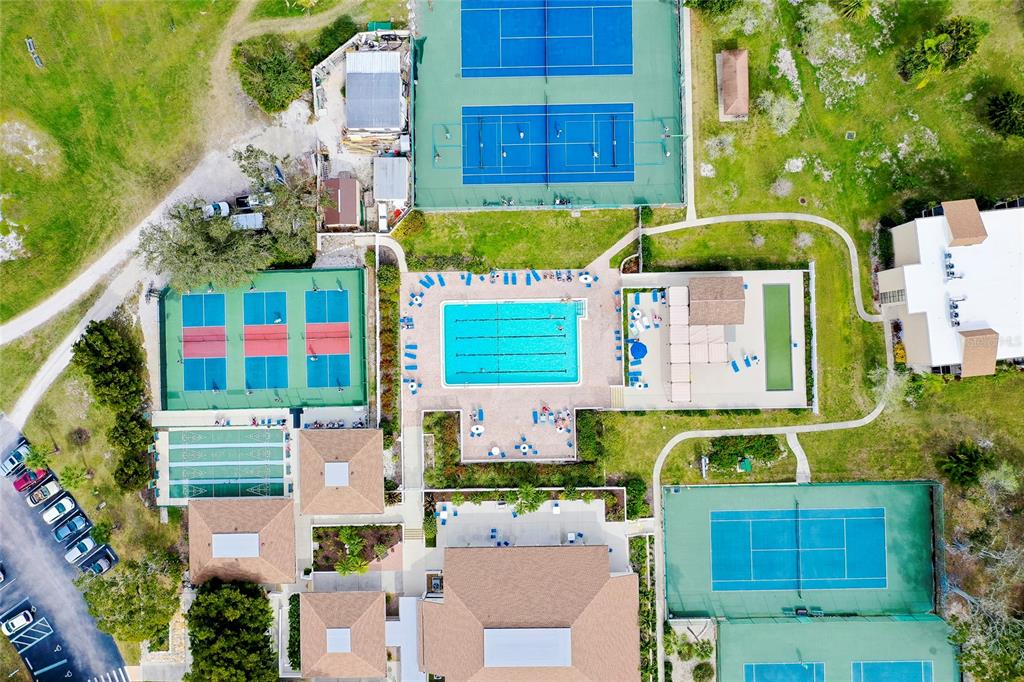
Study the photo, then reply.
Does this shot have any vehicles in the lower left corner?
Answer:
Yes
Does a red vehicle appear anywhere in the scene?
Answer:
Yes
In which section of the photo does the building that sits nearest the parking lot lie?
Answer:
bottom left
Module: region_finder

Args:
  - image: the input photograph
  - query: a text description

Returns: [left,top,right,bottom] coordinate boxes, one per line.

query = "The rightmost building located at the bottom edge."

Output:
[420,540,639,682]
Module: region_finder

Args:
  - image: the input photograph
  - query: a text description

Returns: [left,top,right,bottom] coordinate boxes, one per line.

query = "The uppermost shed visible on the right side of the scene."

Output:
[716,49,748,122]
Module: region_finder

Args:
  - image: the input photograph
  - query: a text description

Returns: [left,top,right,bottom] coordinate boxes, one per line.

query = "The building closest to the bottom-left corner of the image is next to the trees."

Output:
[188,499,296,585]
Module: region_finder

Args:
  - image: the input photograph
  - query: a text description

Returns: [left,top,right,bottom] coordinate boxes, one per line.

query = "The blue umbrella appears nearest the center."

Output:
[634,342,650,359]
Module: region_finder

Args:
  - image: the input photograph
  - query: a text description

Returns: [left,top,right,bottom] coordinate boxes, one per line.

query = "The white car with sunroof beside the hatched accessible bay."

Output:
[0,609,32,638]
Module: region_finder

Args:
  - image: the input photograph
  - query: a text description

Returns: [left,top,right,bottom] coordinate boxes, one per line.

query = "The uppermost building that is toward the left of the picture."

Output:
[346,52,403,136]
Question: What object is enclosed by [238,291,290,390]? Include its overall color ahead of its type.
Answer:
blue sports court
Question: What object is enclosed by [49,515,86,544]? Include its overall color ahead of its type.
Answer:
blue car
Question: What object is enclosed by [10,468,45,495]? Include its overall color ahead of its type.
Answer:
red car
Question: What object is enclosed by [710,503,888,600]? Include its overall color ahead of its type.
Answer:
blue tennis court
